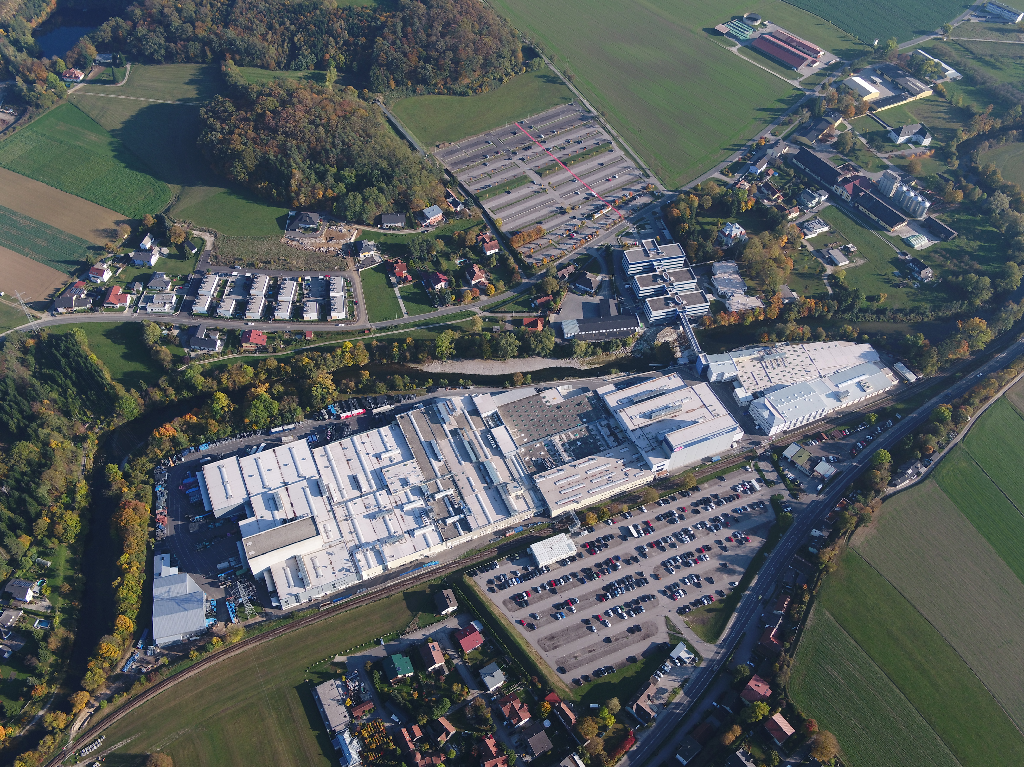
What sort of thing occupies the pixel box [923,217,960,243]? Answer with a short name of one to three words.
shed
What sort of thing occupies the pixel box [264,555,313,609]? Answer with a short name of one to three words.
building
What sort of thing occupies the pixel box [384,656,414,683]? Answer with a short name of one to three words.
house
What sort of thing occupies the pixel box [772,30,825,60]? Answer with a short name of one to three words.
barn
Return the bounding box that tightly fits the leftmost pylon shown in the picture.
[11,290,37,331]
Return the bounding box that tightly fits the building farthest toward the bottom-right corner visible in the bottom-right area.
[764,713,795,745]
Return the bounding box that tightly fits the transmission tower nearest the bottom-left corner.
[227,580,261,622]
